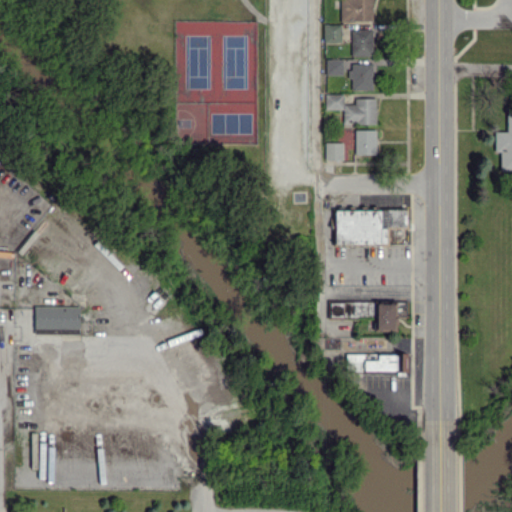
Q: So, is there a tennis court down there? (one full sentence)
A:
Yes, a tennis court appears in the view.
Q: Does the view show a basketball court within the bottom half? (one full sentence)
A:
No, no basketball court is visible within the bottom half.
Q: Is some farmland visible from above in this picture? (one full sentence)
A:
No, farmland can't be seen anywhere here.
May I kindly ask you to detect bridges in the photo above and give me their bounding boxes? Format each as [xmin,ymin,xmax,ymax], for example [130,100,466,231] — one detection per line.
[418,422,464,512]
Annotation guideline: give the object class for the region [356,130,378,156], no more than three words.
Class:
house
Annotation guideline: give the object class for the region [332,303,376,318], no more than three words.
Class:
building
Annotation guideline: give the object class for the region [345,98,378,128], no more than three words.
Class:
house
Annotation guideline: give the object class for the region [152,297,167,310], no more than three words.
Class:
vehicle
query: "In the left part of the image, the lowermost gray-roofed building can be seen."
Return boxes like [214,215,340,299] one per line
[34,306,82,334]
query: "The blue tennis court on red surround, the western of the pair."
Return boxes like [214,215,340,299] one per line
[176,22,217,102]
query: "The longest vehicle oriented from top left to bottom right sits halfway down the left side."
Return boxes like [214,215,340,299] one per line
[96,244,124,272]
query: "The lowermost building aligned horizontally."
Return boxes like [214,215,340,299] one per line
[347,354,400,374]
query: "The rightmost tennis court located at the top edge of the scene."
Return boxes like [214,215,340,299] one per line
[217,22,258,102]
